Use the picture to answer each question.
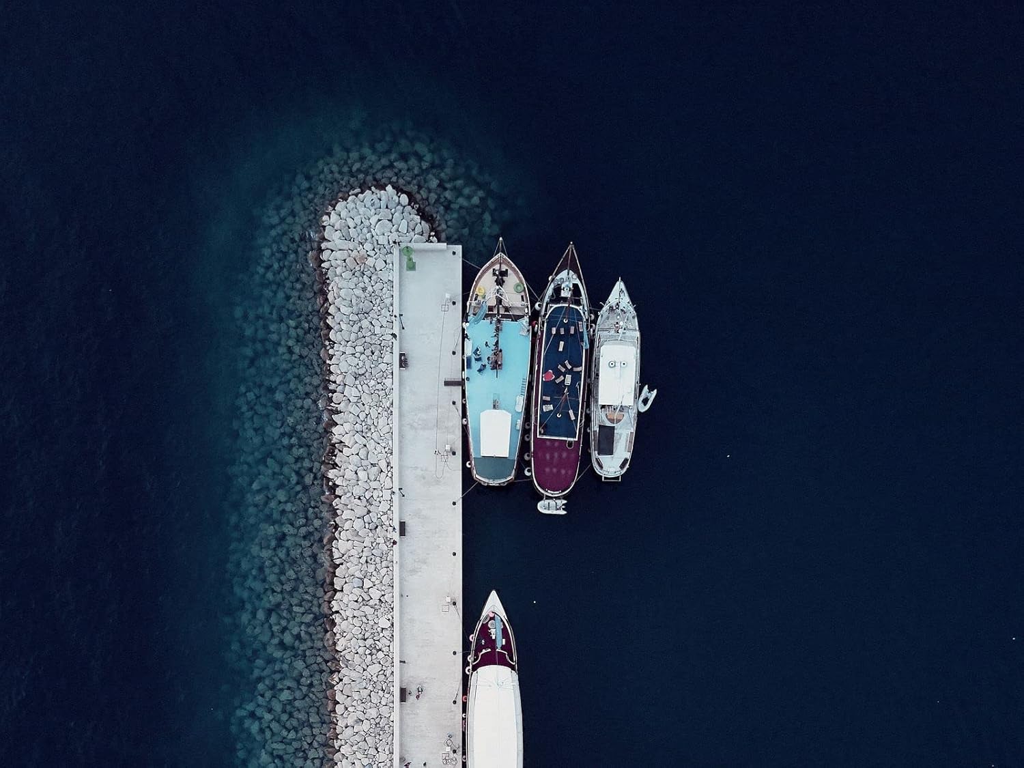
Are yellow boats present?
No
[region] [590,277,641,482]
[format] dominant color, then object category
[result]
white boat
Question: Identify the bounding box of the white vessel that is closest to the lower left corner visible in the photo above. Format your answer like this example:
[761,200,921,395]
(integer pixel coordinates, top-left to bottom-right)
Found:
[466,590,524,768]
